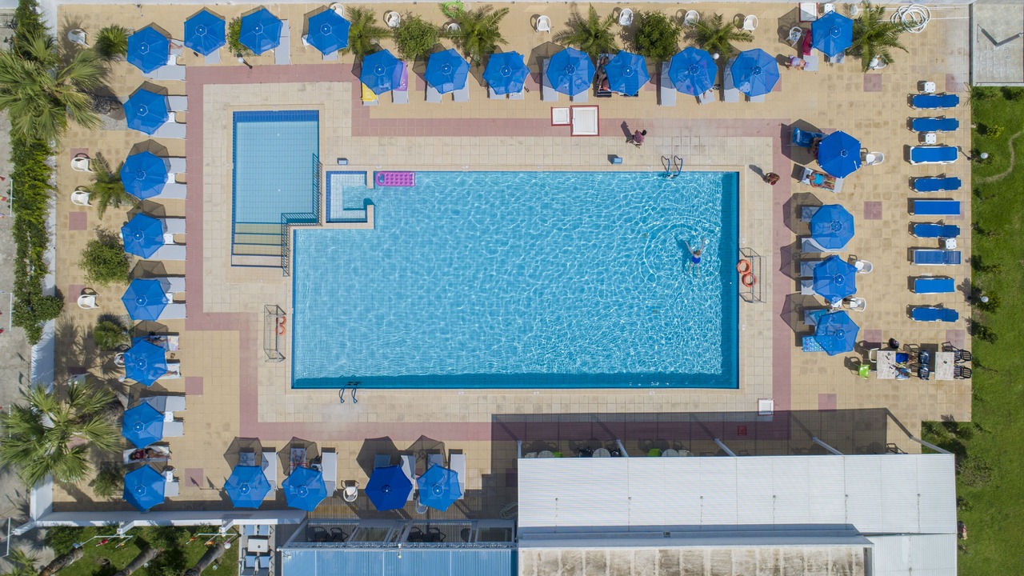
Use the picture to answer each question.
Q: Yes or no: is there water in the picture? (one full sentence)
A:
Yes, water can be seen from above here.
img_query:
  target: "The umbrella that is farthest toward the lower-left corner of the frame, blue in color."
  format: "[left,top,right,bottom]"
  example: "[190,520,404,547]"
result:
[127,463,176,509]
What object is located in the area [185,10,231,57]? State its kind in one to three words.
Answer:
umbrella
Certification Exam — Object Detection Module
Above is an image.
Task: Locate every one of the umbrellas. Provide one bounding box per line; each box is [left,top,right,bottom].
[804,203,852,247]
[127,87,177,134]
[227,464,275,505]
[132,27,180,72]
[419,461,461,507]
[125,399,175,444]
[125,278,177,321]
[810,131,859,179]
[185,10,231,57]
[602,51,649,100]
[127,338,178,385]
[807,11,849,59]
[423,48,469,94]
[545,47,594,97]
[668,47,717,96]
[729,49,777,99]
[366,465,414,509]
[284,461,329,508]
[310,9,351,56]
[127,463,176,509]
[806,254,853,302]
[123,150,173,199]
[126,212,169,258]
[808,308,858,353]
[360,49,405,97]
[483,52,530,97]
[241,10,284,57]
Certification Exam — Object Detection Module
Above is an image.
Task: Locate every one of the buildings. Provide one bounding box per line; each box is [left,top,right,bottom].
[280,518,515,576]
[517,435,958,576]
